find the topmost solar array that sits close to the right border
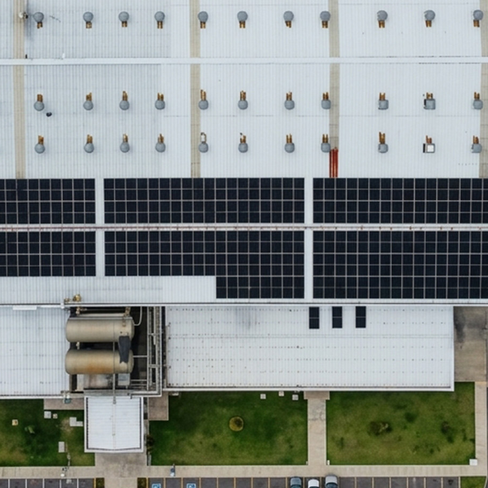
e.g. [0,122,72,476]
[313,178,488,223]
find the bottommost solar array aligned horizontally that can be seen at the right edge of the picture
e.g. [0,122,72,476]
[313,231,488,299]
